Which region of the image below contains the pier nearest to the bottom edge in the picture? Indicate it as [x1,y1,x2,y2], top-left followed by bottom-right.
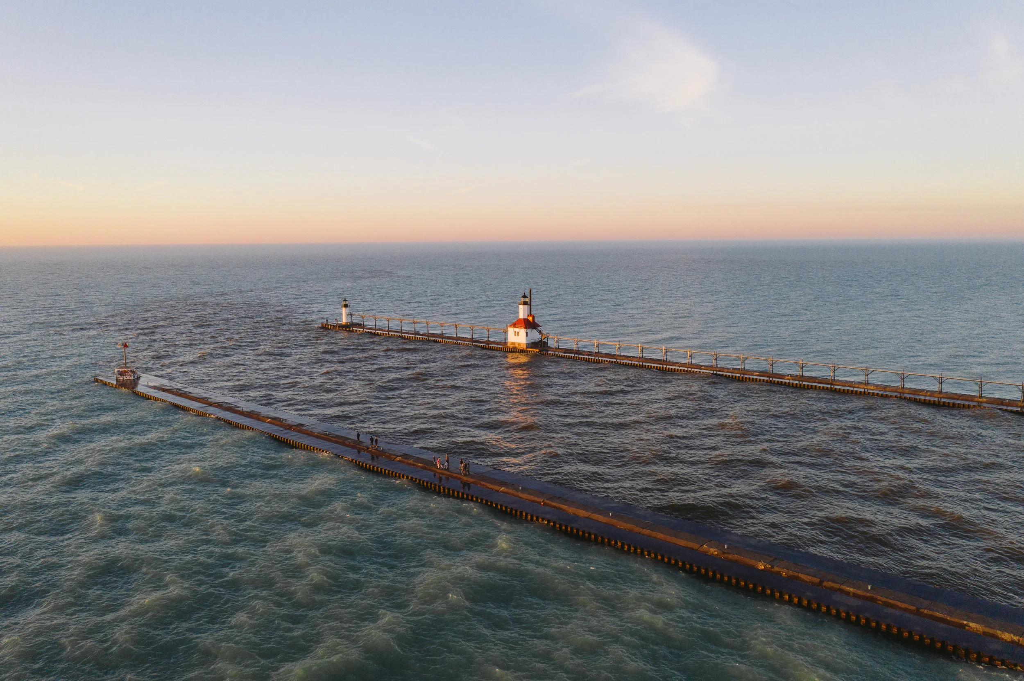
[94,374,1024,678]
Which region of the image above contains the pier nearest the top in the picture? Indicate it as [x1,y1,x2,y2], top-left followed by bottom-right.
[321,322,1024,416]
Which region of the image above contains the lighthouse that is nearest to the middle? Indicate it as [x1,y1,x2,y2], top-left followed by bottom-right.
[504,289,554,348]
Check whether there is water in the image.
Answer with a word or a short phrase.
Yes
